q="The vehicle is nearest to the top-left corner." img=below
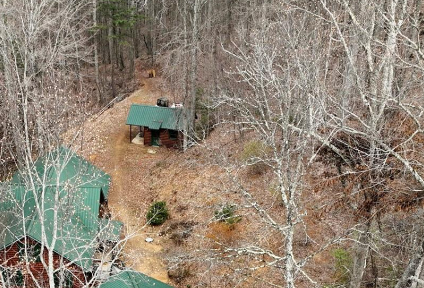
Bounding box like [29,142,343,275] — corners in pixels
[154,95,171,111]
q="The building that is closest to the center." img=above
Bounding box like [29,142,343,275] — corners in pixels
[132,110,195,148]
